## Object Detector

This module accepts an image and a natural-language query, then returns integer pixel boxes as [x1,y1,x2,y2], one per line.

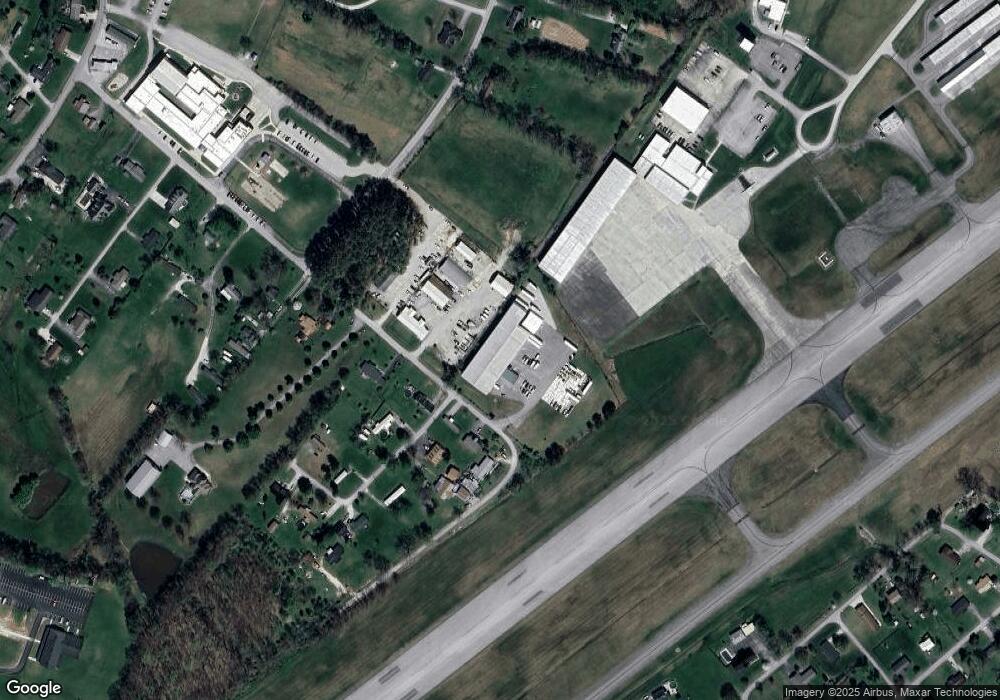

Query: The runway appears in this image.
[340,190,1000,700]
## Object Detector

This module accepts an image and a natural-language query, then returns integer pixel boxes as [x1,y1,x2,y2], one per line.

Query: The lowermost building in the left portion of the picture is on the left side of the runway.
[36,624,79,670]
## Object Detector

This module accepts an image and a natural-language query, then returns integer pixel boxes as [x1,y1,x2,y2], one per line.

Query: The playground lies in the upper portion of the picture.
[241,159,289,212]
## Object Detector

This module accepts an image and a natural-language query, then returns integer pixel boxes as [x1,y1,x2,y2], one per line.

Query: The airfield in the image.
[340,0,1000,700]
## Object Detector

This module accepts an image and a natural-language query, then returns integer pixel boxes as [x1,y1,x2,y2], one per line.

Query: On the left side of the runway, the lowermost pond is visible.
[131,541,182,595]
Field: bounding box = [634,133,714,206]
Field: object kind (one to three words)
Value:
hangar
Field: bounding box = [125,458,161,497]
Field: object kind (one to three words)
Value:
barn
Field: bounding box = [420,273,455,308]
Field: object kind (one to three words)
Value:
building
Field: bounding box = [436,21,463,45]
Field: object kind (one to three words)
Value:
house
